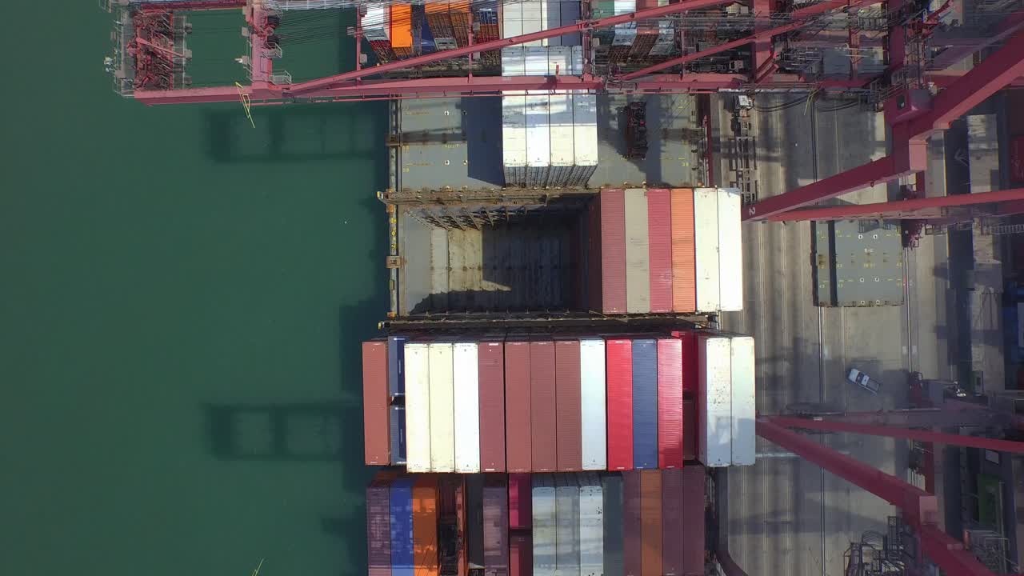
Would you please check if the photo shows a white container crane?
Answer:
No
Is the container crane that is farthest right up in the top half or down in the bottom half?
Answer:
bottom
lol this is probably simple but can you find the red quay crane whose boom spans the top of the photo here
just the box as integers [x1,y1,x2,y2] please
[98,0,1024,253]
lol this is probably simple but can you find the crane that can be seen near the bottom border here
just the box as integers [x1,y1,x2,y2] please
[710,364,1024,576]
